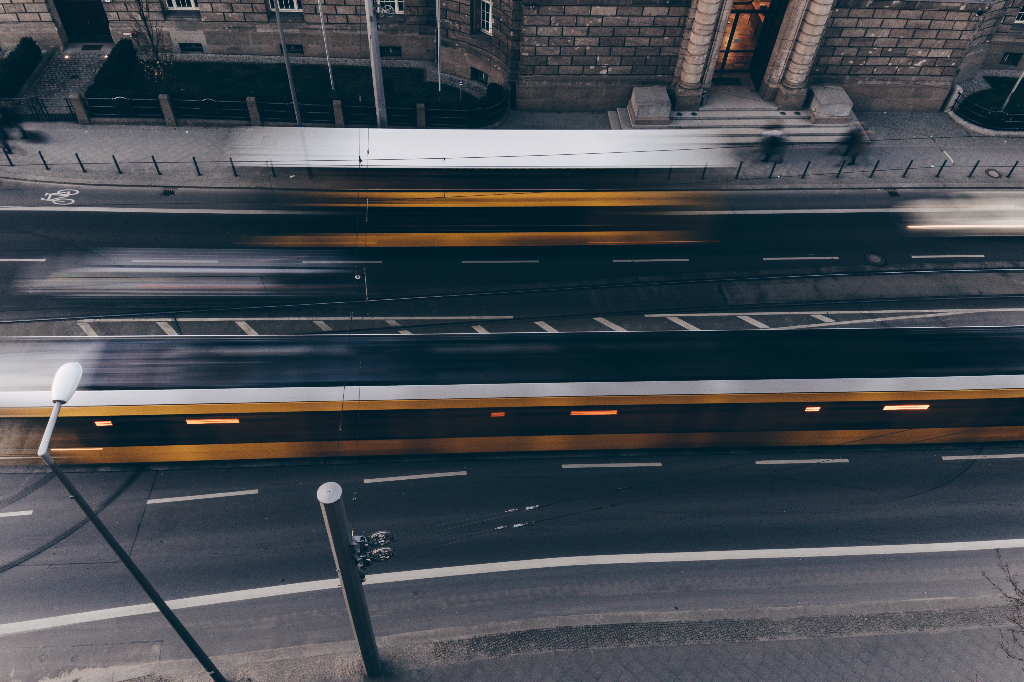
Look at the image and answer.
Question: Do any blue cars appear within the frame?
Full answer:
No, I can see no blue car in this picture.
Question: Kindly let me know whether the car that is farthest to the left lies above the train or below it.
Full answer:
The position of the car that is farthest to the left is above the train.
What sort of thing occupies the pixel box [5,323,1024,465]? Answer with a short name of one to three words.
train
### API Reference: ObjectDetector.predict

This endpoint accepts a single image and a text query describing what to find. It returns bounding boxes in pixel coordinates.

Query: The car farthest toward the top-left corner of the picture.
[114,241,264,301]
